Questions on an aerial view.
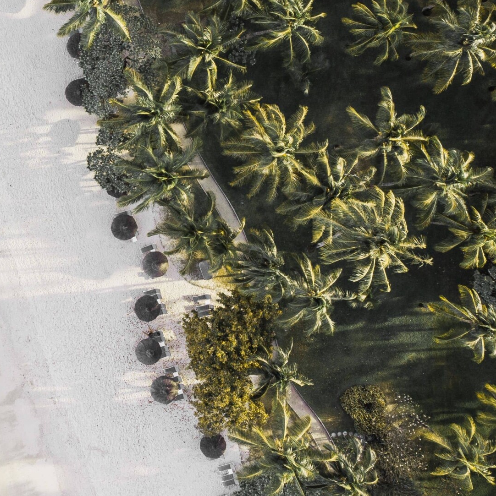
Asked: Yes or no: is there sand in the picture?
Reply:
Yes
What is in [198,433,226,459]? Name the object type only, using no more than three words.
umbrella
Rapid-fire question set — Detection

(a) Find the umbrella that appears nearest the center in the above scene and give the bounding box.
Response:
[141,250,169,279]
